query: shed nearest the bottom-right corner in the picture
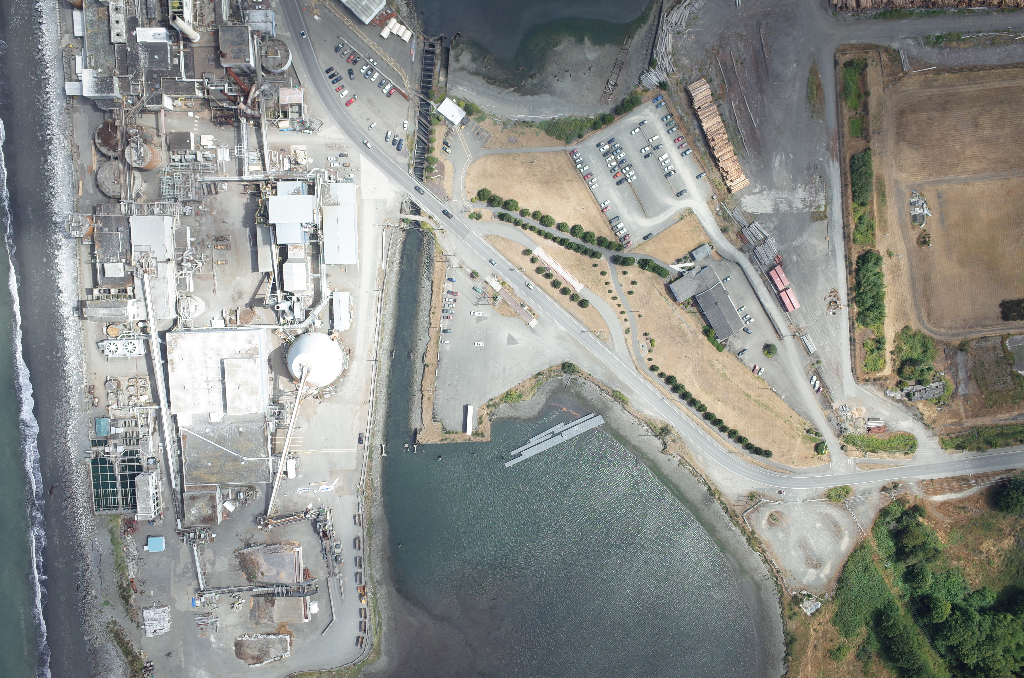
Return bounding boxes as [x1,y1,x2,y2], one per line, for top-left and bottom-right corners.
[886,378,945,404]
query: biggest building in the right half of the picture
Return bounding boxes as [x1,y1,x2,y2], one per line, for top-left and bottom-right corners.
[667,266,744,340]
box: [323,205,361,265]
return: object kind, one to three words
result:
shed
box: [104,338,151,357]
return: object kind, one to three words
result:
cooling tower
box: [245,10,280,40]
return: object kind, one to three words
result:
building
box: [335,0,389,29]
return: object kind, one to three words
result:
building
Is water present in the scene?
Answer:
Yes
